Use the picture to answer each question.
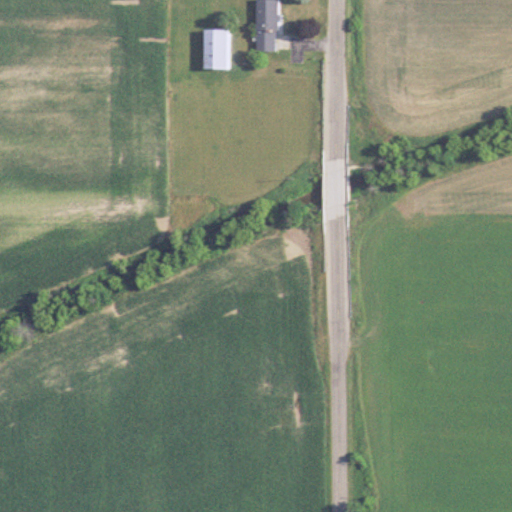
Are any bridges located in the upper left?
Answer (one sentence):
No, there is no bridge in the upper left.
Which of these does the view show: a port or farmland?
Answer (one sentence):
It's farmland.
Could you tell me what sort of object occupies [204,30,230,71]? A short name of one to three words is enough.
barn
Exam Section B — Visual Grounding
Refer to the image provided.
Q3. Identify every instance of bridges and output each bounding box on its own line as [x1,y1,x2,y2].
[322,144,350,238]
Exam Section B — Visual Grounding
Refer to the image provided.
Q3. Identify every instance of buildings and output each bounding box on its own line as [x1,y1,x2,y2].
[204,30,230,71]
[256,0,283,50]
